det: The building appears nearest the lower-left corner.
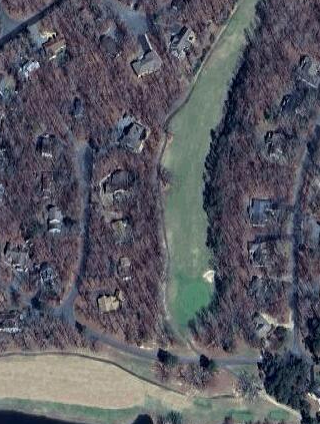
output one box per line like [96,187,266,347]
[0,314,22,331]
